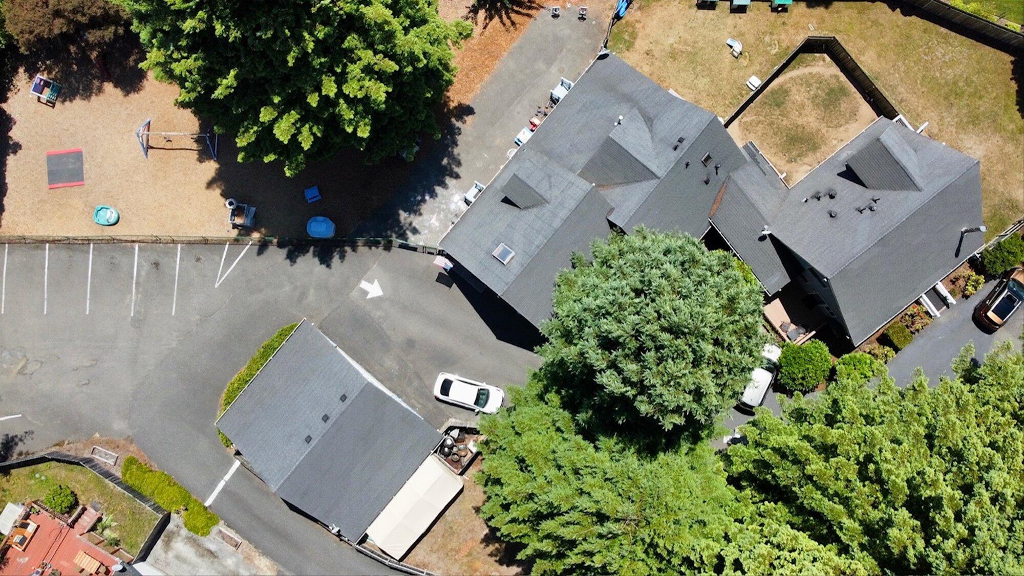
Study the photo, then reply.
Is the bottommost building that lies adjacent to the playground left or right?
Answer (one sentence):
It is on the left.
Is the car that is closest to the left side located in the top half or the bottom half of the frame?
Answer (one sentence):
It is in the bottom half that the car that is closest to the left side appears.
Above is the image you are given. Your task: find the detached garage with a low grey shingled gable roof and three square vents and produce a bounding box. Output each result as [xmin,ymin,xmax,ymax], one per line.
[214,319,443,543]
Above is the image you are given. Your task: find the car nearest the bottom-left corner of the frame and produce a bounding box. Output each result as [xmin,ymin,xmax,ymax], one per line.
[432,375,505,417]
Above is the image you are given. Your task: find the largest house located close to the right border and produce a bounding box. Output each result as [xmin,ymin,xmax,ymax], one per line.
[765,116,989,347]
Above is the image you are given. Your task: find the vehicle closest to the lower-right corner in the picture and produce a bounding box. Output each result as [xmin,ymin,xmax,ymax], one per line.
[964,265,1024,334]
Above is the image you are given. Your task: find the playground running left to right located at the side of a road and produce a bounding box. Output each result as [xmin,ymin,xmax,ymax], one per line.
[0,0,546,241]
